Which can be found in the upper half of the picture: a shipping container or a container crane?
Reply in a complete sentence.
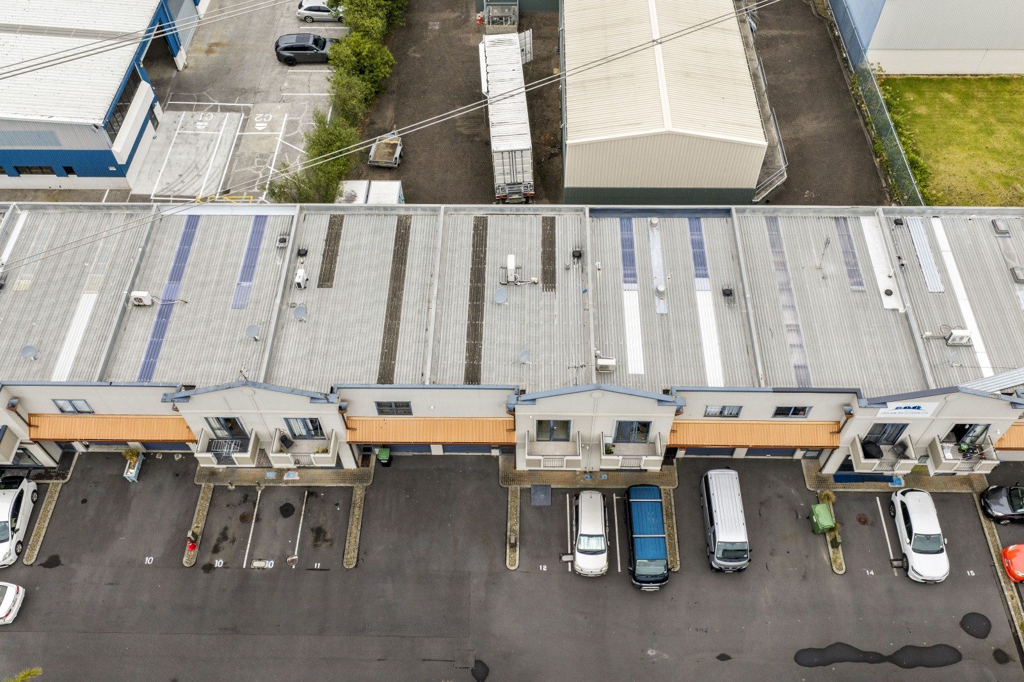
You can see a shipping container in the upper half of the picture.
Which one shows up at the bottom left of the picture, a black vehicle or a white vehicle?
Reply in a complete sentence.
The one visible at the bottom left of the picture is a white vehicle.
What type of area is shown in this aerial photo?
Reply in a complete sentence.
What you see here is an industrial area.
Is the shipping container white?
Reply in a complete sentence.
Yes, the shipping container appears white.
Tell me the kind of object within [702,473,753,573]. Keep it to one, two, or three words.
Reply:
van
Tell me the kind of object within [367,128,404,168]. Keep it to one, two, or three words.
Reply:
trailer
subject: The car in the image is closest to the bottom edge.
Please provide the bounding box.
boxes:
[0,586,27,627]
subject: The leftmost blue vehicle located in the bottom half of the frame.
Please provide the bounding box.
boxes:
[625,486,671,588]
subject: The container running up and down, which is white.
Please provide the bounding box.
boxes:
[478,29,533,184]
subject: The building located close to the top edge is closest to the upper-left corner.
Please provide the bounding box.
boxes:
[0,0,196,189]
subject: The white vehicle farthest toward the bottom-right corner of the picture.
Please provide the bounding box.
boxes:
[888,495,948,582]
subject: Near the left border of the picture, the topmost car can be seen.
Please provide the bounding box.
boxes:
[0,483,37,567]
